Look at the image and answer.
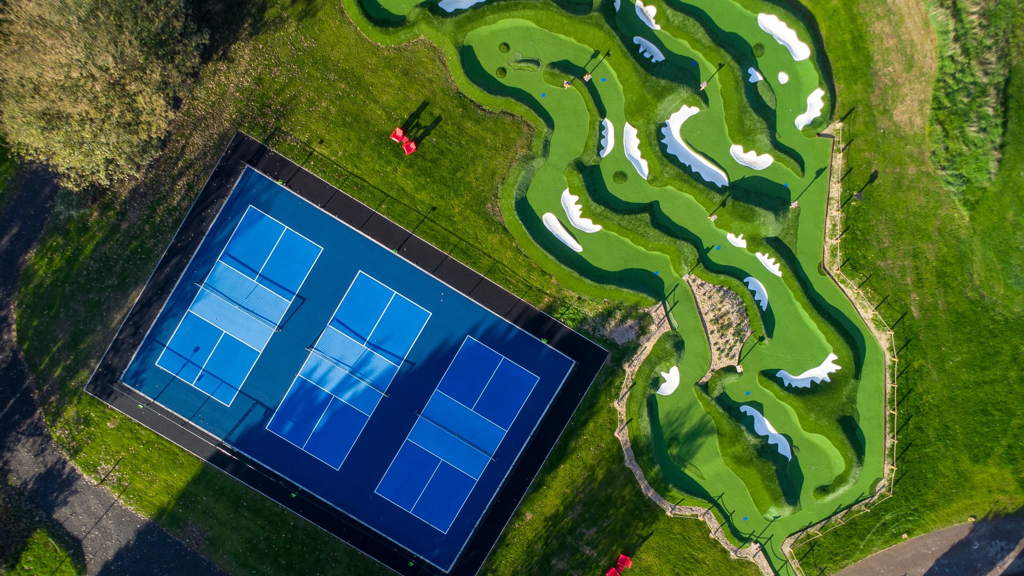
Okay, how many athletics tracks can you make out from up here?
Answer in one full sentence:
Not a single athletics track can be seen.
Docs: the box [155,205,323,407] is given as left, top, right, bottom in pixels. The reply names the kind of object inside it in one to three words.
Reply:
sports court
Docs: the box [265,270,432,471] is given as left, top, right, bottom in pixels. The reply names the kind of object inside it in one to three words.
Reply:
sports court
